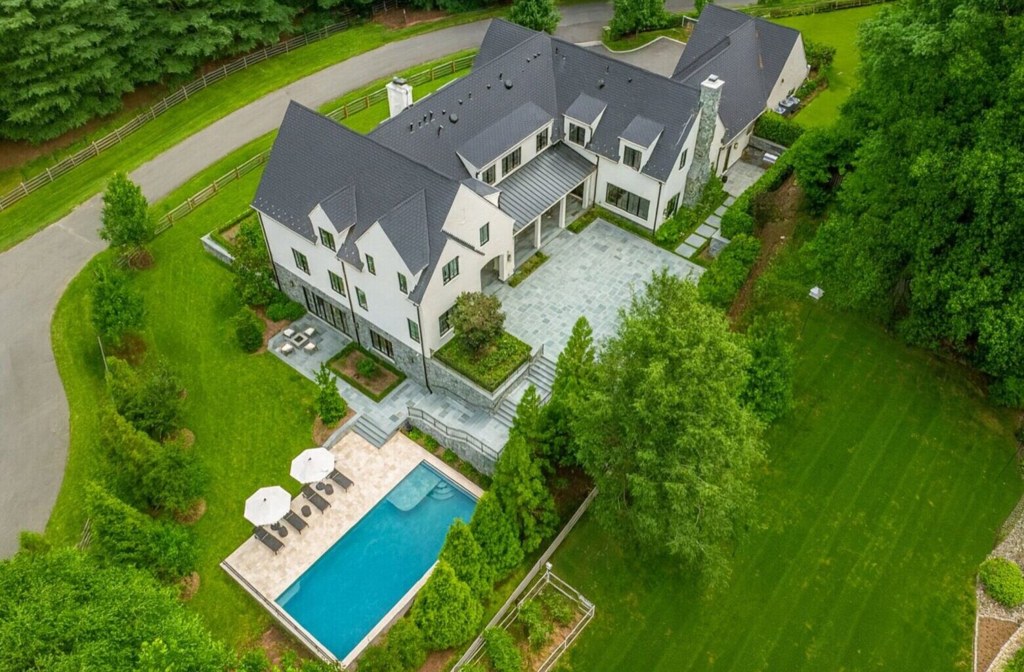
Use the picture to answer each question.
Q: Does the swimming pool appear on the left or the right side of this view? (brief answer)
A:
left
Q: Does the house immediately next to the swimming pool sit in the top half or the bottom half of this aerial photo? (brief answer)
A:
top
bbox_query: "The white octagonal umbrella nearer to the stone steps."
[287,448,334,496]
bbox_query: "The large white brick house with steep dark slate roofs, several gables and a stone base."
[250,0,812,396]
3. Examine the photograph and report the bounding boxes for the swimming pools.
[217,460,488,672]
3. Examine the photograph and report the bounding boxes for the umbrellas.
[287,448,334,496]
[241,486,291,536]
